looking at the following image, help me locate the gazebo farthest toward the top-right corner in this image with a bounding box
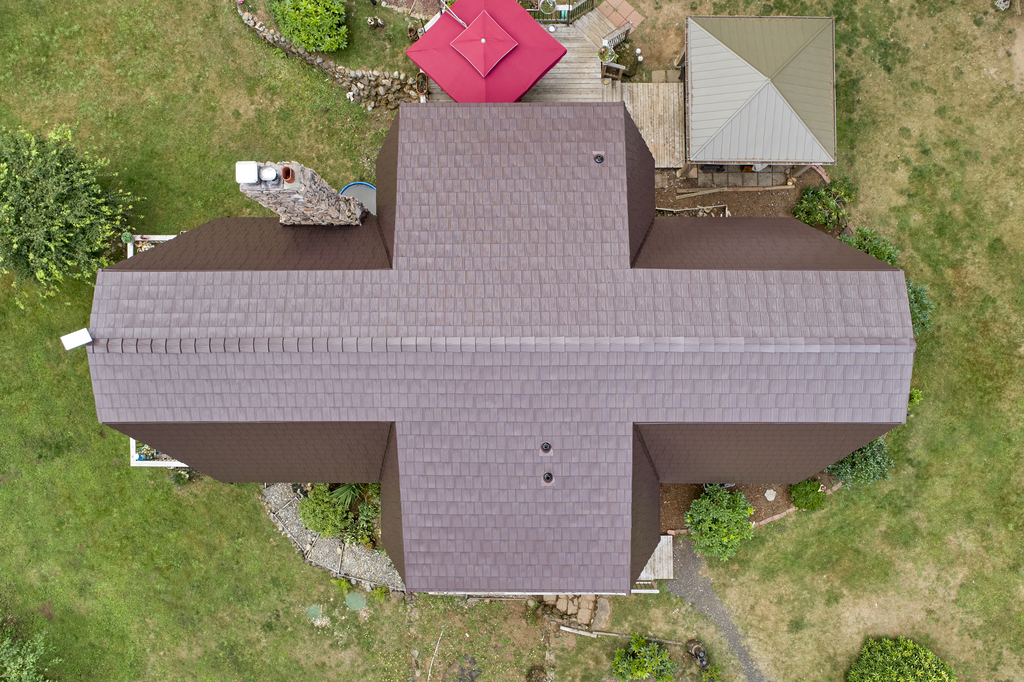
[670,15,837,182]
